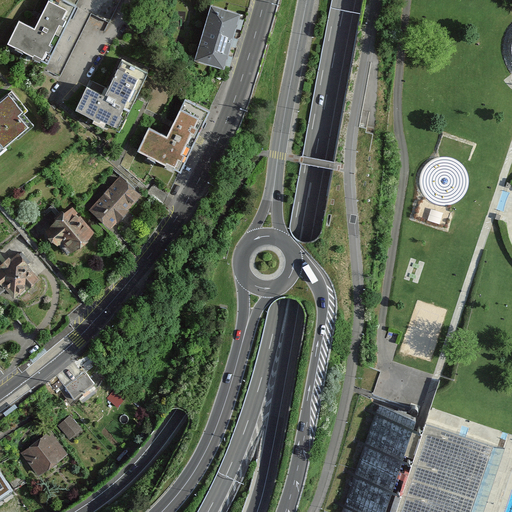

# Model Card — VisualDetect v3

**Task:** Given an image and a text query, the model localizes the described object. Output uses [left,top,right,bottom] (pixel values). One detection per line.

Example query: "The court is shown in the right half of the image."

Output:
[400,300,446,361]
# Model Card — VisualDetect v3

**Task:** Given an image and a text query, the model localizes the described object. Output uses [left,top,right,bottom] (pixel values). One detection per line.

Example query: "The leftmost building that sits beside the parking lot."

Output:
[0,91,36,154]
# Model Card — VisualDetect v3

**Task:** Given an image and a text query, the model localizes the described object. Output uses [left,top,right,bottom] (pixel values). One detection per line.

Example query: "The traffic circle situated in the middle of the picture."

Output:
[232,227,303,298]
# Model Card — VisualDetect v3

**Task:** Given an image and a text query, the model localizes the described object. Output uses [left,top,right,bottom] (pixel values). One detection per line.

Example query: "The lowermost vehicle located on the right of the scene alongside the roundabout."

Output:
[303,263,318,284]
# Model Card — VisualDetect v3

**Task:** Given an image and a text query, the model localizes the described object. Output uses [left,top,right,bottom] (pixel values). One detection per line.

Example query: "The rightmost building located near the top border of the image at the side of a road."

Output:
[196,6,244,69]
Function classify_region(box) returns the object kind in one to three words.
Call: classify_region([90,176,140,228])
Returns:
house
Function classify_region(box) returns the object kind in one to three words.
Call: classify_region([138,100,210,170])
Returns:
building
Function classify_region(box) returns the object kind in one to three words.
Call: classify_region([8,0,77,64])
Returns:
building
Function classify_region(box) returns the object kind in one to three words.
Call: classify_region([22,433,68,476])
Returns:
house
